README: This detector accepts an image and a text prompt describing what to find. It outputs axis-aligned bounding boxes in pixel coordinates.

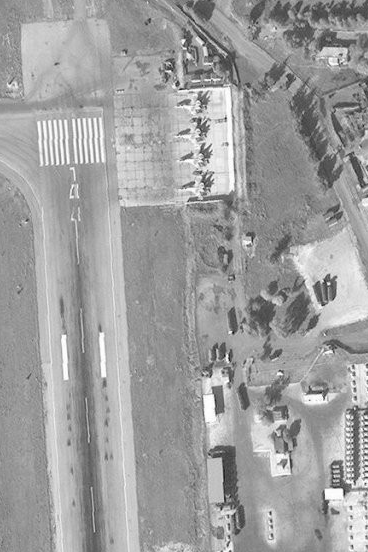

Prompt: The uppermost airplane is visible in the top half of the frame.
[177,98,207,119]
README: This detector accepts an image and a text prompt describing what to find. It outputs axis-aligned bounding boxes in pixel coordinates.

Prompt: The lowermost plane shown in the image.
[181,178,211,199]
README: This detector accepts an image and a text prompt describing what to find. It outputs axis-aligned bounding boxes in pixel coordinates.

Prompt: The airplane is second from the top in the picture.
[179,125,208,146]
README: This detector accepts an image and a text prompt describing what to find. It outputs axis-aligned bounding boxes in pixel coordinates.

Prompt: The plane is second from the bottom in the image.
[181,152,210,173]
